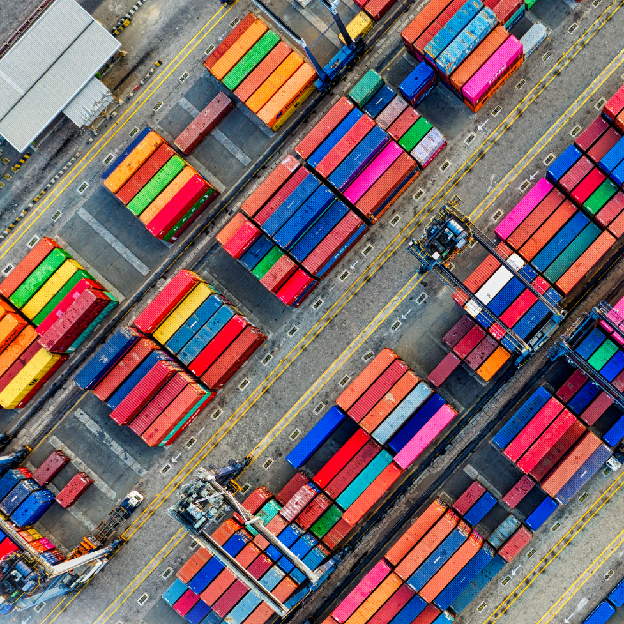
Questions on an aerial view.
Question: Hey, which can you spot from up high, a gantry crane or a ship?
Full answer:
I can see a gantry crane in this picture.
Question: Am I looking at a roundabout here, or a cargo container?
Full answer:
Of the two, only a cargo container appears.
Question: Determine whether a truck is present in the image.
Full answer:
Yes, looking at the shot, I can spot a truck.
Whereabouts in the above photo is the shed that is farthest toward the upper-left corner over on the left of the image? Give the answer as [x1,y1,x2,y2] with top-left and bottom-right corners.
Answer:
[0,0,132,157]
